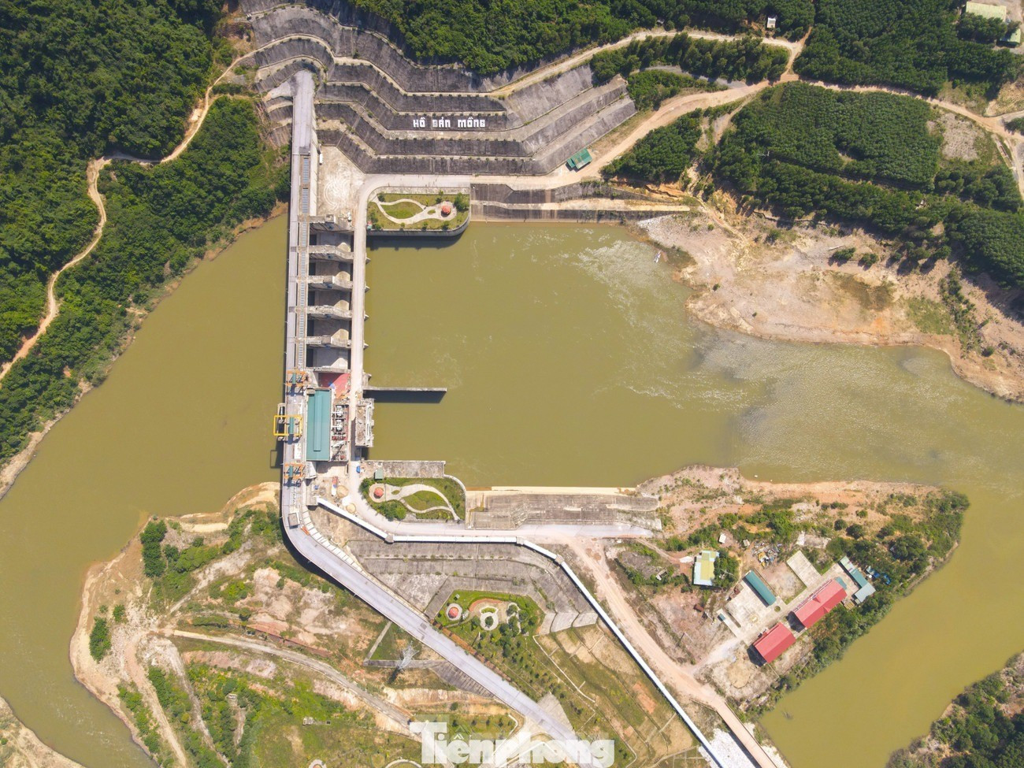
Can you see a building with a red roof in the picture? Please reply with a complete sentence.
Yes, the frame does contain a building with a red roof.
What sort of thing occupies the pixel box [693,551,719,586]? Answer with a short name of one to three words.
house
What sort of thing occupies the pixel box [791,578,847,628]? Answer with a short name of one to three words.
building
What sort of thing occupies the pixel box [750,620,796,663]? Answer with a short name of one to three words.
building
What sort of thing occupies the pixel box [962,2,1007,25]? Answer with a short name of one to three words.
shed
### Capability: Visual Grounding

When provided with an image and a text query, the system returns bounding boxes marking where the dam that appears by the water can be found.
[266,71,616,768]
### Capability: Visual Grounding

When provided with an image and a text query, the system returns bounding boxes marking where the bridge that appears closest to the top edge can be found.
[350,230,370,370]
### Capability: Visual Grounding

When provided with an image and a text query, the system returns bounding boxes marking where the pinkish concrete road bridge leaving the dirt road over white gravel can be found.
[713,701,775,768]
